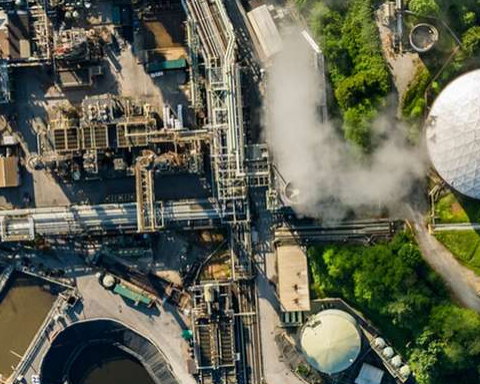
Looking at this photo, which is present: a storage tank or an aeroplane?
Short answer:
storage tank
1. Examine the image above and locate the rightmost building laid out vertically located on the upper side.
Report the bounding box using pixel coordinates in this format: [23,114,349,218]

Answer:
[272,48,322,163]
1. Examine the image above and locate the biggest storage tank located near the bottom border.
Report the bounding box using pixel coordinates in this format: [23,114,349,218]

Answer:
[297,305,363,373]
